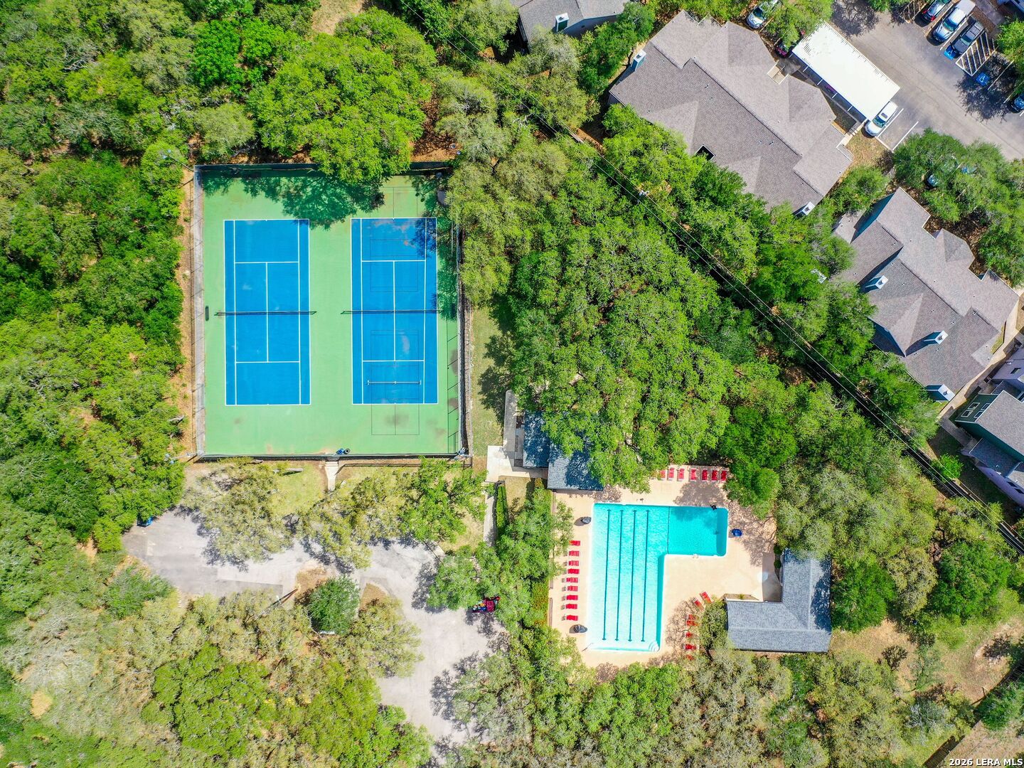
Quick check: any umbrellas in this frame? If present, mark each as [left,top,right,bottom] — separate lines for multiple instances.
[730,527,743,536]
[578,517,594,526]
[573,625,589,635]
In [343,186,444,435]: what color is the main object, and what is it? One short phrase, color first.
blue tennis court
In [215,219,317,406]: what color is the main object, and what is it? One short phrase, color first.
blue tennis court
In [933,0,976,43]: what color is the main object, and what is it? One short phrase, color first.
white truck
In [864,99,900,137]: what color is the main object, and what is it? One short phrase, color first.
white car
